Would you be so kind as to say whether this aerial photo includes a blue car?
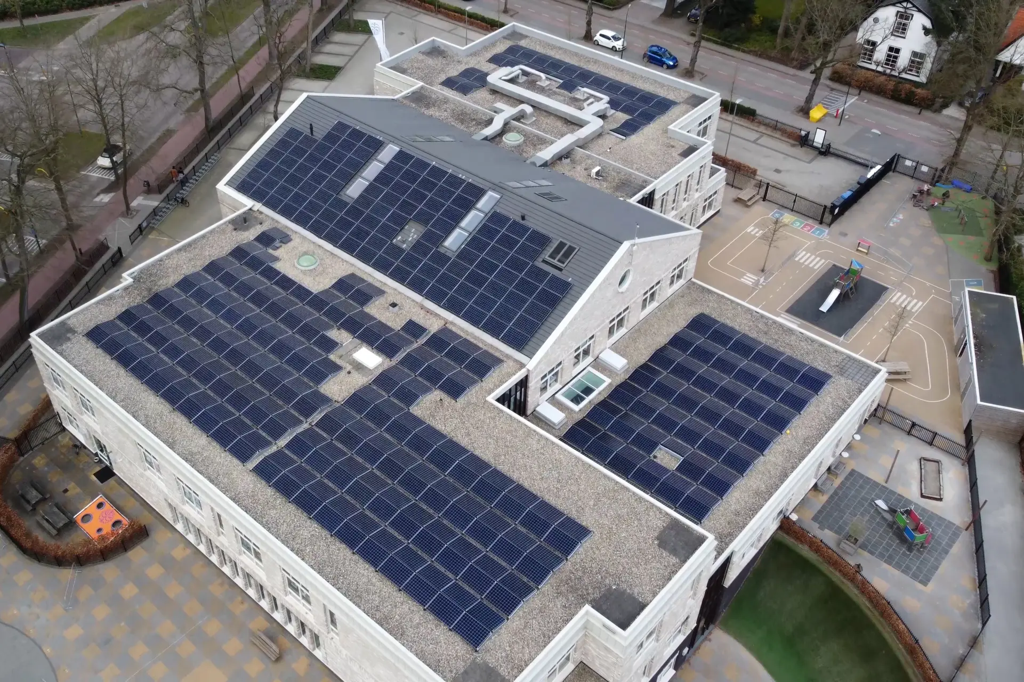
Yes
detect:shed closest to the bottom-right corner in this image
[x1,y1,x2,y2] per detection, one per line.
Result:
[954,288,1024,444]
